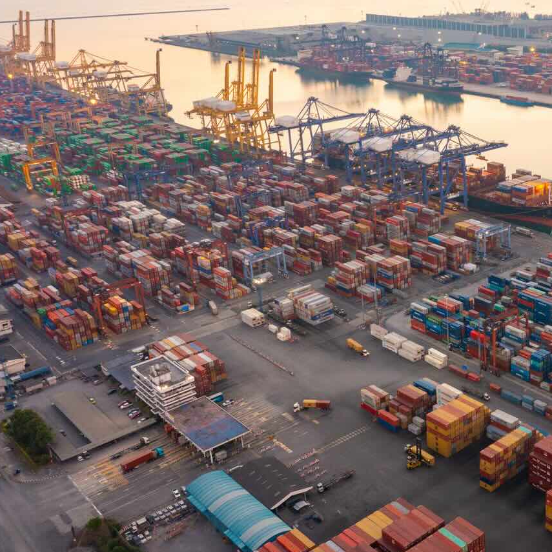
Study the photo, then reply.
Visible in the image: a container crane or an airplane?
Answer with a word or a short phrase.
container crane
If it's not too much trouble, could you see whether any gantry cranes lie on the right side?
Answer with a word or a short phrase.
Yes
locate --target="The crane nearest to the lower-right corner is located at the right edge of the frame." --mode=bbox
[481,314,531,375]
